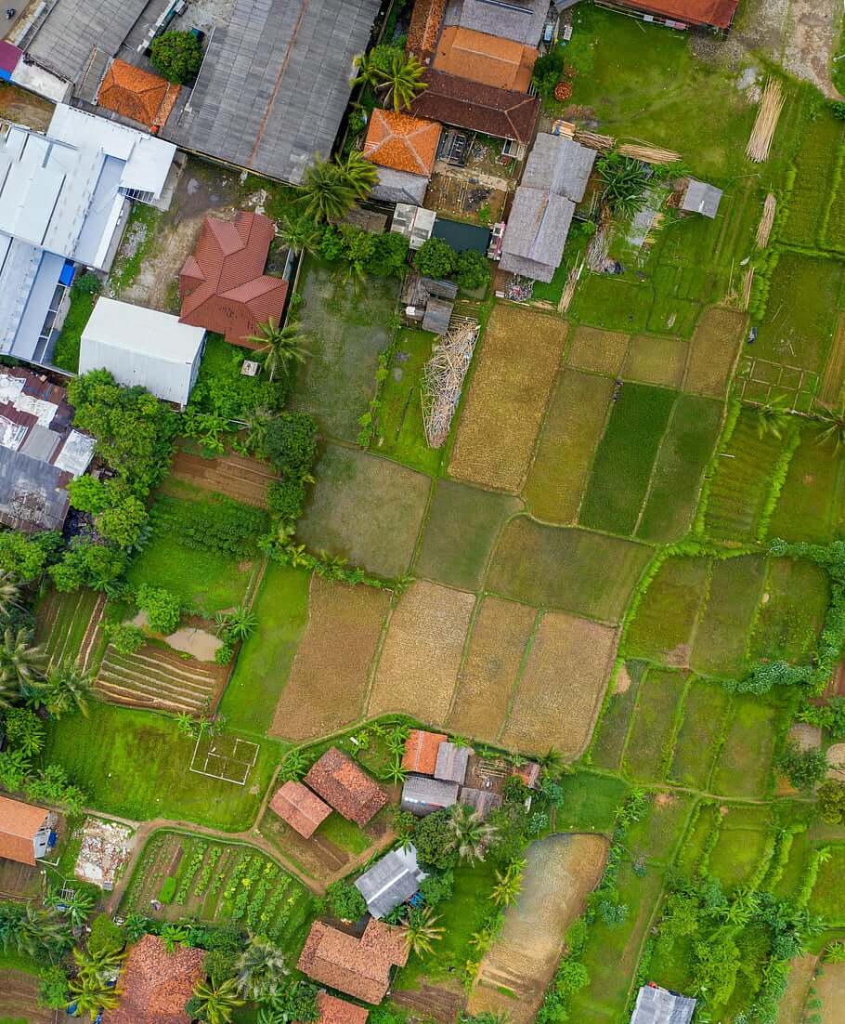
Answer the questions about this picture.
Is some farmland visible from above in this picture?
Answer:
Yes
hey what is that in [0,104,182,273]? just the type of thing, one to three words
building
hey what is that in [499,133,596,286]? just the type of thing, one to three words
barn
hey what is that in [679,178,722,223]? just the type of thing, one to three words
shed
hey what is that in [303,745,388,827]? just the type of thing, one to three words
house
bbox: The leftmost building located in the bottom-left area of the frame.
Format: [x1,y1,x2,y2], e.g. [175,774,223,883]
[0,791,55,864]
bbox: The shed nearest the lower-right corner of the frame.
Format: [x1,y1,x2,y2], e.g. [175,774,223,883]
[627,979,695,1024]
